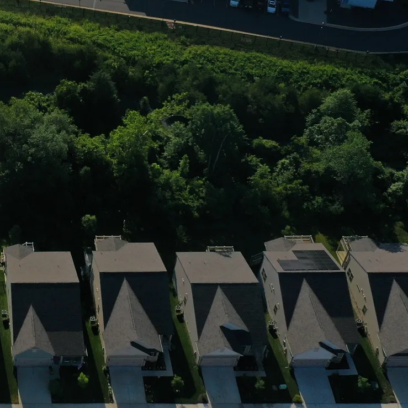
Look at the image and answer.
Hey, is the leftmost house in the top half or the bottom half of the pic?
bottom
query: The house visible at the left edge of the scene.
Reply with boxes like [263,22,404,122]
[6,235,83,368]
